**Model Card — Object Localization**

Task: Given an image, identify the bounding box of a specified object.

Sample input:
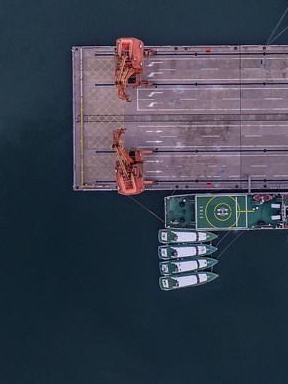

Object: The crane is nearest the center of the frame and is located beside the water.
[113,128,155,195]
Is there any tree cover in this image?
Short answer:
No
